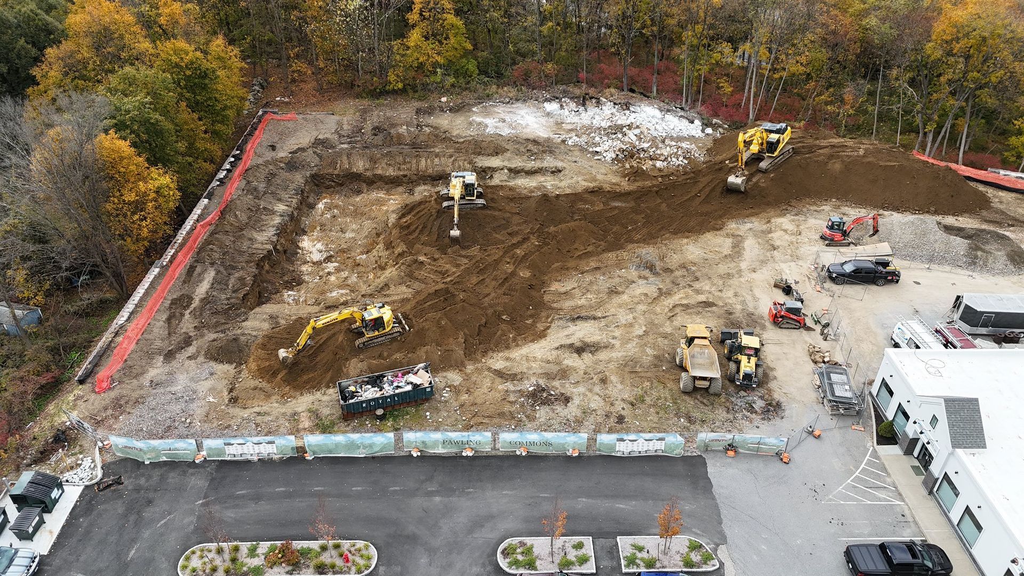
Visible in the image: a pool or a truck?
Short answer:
truck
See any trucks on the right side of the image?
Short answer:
Yes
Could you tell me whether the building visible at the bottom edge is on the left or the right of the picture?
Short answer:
right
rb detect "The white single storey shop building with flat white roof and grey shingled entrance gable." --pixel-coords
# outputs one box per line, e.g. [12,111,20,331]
[870,349,1024,576]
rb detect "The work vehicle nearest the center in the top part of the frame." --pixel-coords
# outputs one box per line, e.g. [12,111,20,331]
[442,178,482,235]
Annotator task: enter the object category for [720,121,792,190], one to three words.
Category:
work vehicle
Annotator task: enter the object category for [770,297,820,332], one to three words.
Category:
work vehicle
